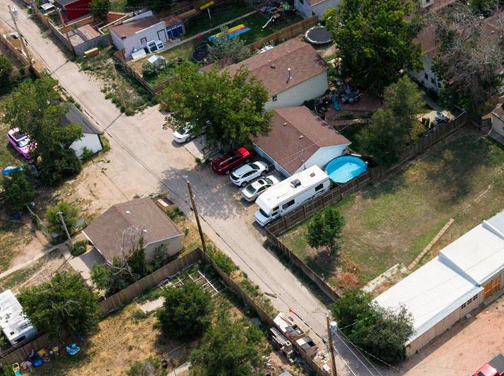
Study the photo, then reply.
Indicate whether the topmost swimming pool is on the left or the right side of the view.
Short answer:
right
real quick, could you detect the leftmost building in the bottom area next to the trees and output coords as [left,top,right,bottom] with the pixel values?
[82,197,184,278]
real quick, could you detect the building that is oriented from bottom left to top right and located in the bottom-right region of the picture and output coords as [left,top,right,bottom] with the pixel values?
[380,208,504,357]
